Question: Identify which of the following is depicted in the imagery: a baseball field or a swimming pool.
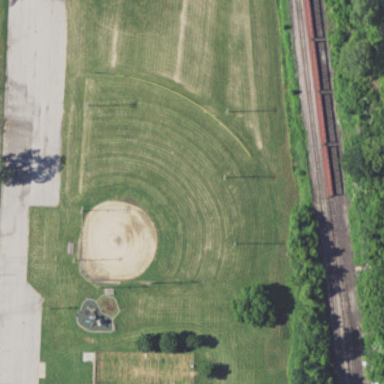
baseball field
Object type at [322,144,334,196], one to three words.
rail car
